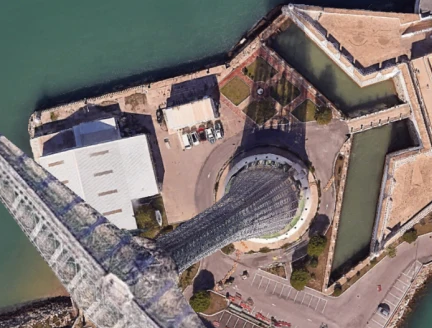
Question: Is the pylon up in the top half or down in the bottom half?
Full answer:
Seen from above, the pylon lies in the bottom half of the view.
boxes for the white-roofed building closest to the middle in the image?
[161,95,223,148]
